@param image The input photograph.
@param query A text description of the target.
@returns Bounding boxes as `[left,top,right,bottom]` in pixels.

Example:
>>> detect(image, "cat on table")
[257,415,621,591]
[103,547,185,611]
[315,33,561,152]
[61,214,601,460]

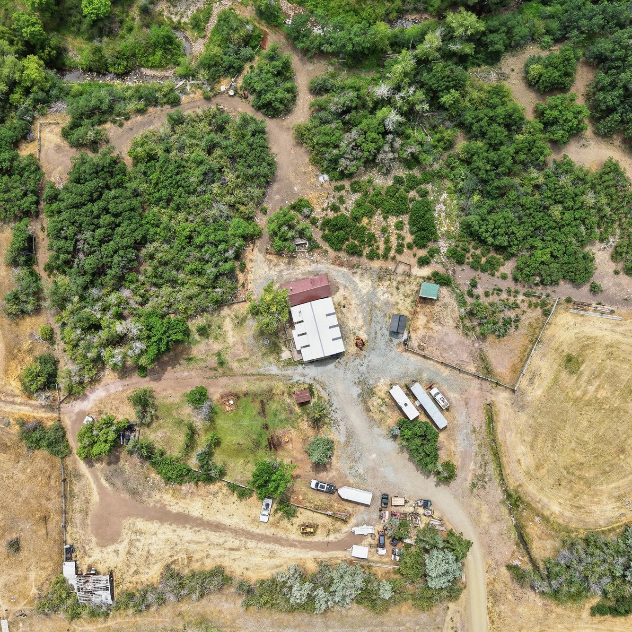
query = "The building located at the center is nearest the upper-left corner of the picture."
[282,275,332,307]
